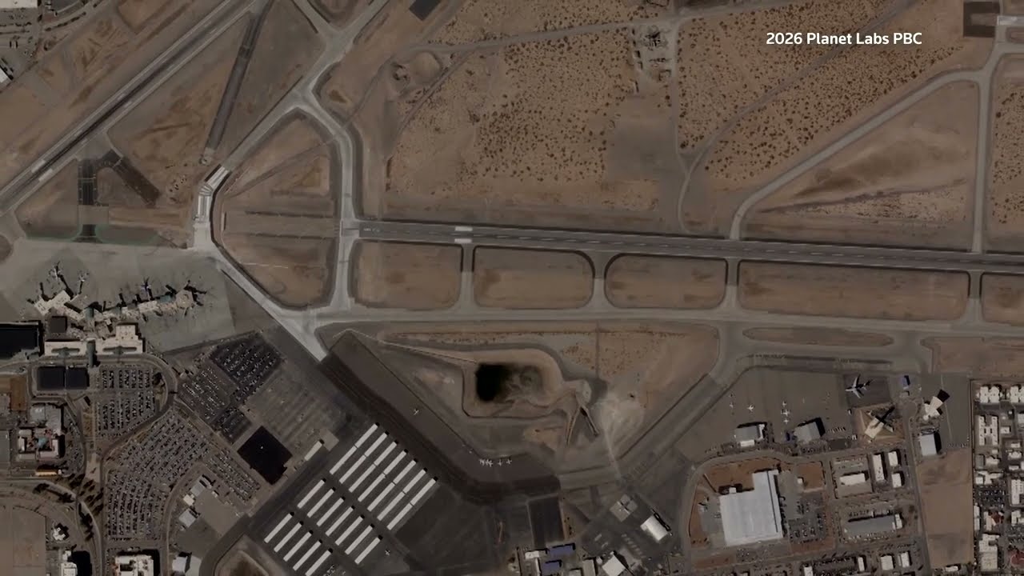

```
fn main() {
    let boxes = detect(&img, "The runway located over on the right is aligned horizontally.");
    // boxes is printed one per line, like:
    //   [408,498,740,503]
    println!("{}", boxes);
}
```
[359,218,1024,276]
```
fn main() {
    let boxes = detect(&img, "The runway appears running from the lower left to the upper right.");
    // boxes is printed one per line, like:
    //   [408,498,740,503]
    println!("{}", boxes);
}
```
[0,0,261,218]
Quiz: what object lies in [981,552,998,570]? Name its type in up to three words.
building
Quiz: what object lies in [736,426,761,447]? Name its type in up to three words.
hangar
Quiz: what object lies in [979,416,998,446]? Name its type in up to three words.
building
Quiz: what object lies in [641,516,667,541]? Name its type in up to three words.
hangar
